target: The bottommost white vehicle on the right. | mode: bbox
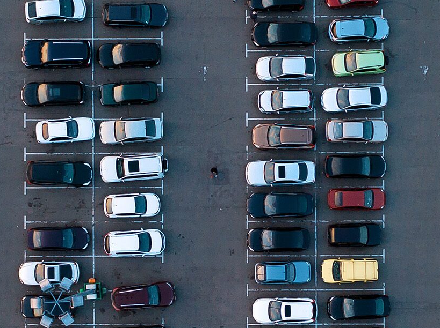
[252,296,318,326]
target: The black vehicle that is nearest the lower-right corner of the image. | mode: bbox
[327,293,391,322]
